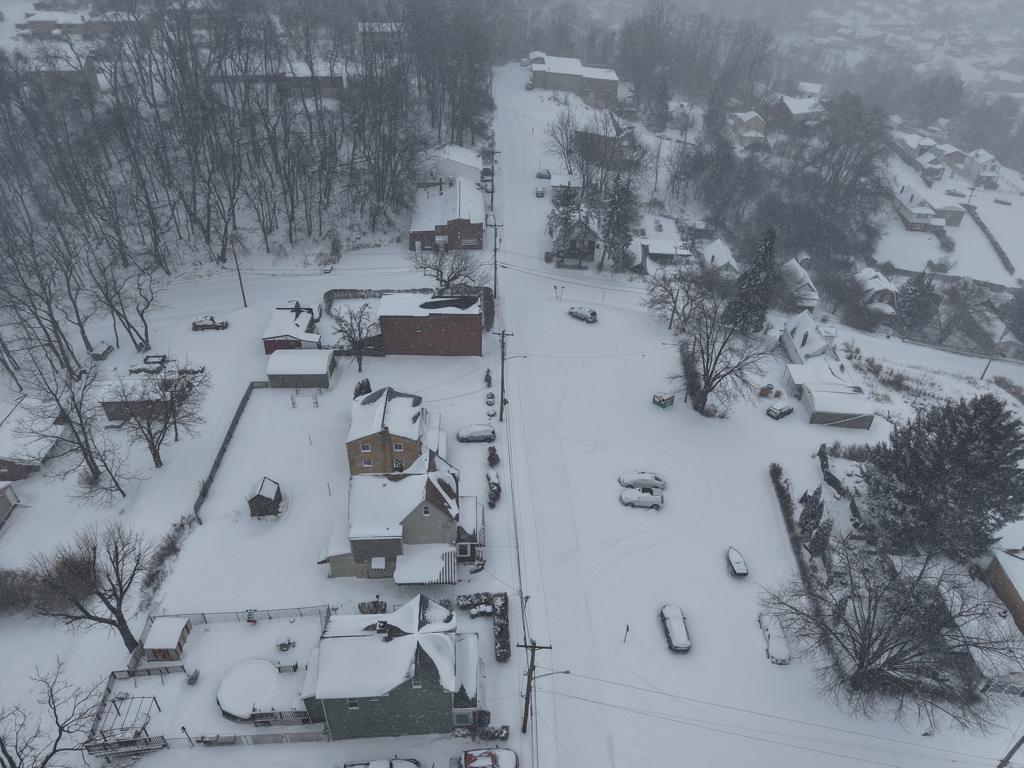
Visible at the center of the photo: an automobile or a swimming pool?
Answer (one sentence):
The one visible at the center of the photo is an automobile.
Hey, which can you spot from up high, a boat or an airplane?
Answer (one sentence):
Looking from above, you can make out a boat.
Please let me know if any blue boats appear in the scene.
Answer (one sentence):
No, there isn't any blue boat down there.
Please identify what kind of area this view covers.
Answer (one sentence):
The area seen from above is a residential area.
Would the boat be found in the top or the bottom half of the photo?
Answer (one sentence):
Seen from above, the boat lies in the bottom half of the view.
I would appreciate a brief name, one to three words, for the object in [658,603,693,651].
car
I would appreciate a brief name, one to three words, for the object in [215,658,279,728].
swimming pool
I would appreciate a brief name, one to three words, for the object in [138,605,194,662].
shed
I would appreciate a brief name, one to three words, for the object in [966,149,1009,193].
house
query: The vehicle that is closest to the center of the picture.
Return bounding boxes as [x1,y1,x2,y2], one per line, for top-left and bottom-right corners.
[458,425,496,445]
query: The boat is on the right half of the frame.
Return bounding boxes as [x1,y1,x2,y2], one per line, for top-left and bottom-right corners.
[726,538,751,576]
